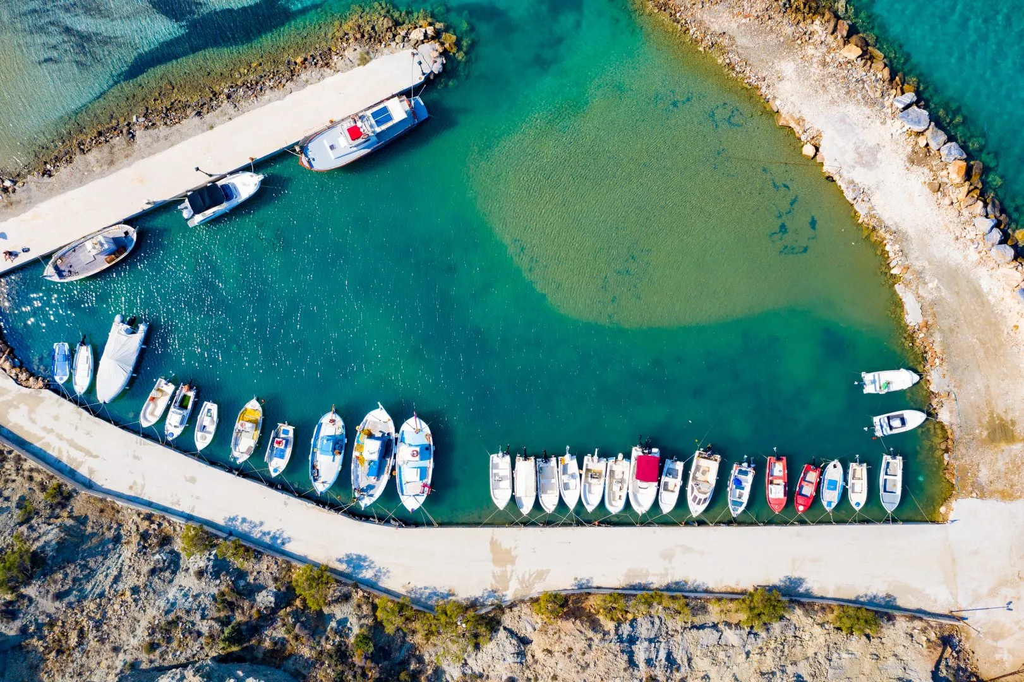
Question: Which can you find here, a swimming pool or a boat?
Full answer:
The one in the frame is a boat.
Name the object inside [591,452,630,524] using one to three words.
boat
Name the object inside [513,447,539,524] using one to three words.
boat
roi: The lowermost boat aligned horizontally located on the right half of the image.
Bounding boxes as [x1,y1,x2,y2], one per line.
[865,404,938,445]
